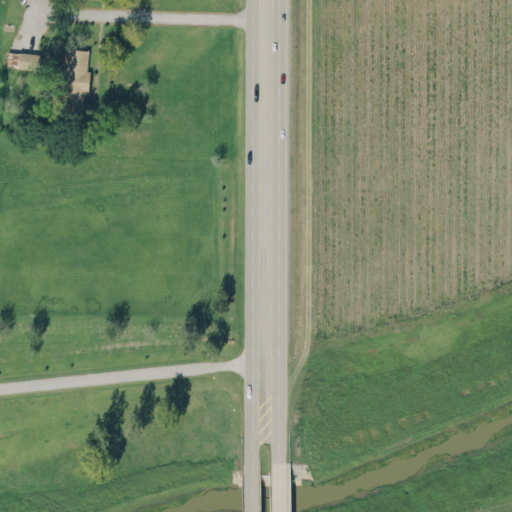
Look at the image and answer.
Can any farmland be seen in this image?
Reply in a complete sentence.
Yes, there's farmland in this view.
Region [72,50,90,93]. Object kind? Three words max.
house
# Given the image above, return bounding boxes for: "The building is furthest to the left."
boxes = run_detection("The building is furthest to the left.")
[7,53,40,70]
